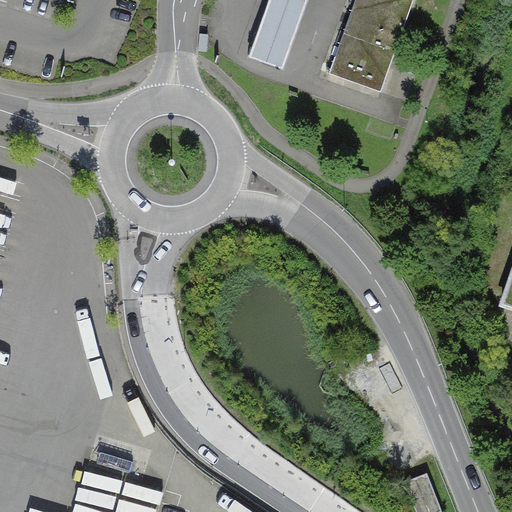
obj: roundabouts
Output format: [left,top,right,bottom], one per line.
[96,84,248,236]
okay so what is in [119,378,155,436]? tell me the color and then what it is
white truck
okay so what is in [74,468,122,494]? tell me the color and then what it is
white truck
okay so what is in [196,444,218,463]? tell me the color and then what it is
white car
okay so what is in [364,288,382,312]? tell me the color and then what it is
white car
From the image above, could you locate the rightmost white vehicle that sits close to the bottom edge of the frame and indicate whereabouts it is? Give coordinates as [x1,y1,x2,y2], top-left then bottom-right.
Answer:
[216,492,251,512]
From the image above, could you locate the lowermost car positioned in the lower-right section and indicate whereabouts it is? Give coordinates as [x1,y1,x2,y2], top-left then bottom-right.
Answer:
[466,464,481,488]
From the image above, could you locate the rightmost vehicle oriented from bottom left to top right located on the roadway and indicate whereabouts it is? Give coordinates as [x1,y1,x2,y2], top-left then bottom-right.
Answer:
[152,240,172,261]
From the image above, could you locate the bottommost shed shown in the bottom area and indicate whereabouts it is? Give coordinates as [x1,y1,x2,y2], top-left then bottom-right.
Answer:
[410,474,442,512]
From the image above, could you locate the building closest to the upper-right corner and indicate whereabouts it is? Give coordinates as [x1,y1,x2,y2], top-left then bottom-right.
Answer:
[330,0,420,90]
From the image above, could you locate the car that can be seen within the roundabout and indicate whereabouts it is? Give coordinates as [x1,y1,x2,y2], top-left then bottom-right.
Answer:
[129,189,151,212]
